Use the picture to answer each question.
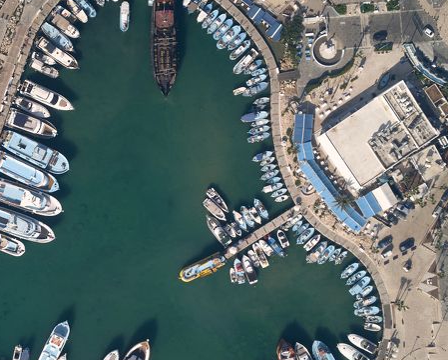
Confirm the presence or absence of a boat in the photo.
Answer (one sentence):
Yes, the frame does contain a boat.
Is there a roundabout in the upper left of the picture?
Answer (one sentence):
No, looking in the upper left of the picture, there is no roundabout.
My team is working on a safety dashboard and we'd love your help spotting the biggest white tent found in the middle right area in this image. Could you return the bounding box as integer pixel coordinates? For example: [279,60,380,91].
[373,182,398,211]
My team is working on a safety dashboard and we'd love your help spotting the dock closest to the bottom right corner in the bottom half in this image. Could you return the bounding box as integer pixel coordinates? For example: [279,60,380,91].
[223,208,302,260]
